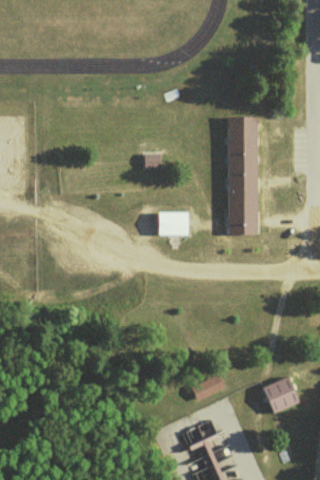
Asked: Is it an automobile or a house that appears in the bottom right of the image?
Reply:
house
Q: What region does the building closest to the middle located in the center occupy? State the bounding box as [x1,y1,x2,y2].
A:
[158,211,190,236]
